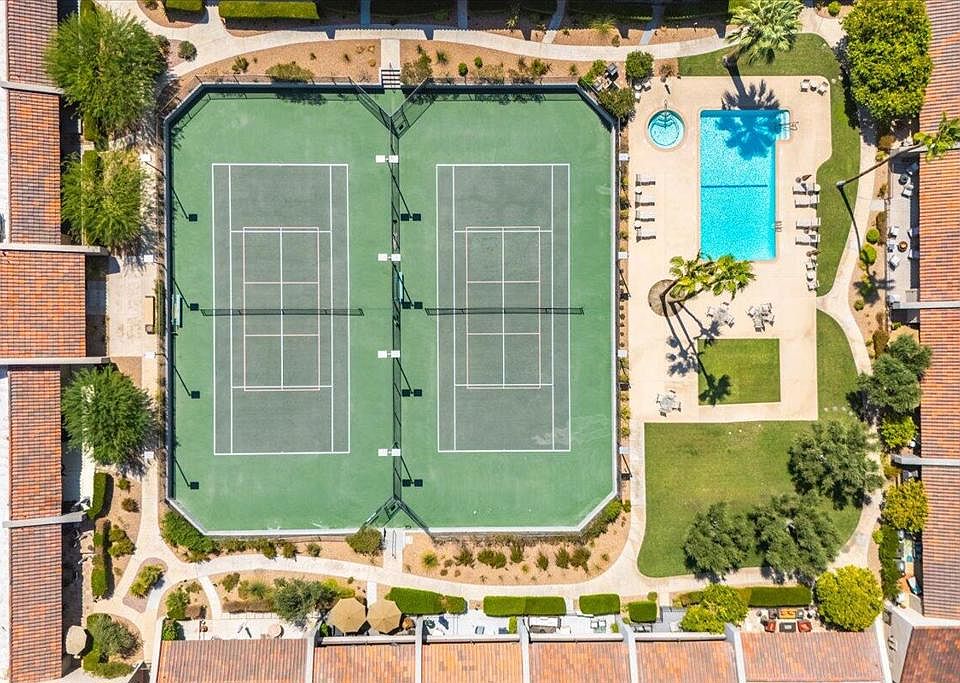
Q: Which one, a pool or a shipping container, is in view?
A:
pool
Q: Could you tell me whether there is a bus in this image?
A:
No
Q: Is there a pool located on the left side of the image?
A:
No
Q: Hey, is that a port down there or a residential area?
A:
residential area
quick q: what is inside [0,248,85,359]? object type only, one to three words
house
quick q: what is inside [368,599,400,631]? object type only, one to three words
umbrella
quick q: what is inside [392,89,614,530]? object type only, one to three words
tennis court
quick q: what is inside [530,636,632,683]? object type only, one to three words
house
